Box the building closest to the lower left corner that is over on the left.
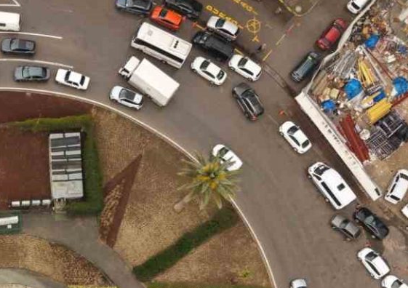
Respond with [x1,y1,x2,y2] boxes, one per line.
[47,131,85,203]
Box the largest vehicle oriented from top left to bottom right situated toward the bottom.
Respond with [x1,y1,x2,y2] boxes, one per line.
[304,164,360,211]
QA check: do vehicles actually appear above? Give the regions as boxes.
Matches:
[356,247,393,280]
[0,11,20,32]
[1,36,36,56]
[277,120,313,154]
[232,84,265,121]
[117,56,181,108]
[290,280,307,288]
[116,0,154,15]
[351,207,392,240]
[380,275,408,288]
[108,86,143,109]
[13,64,49,83]
[191,57,228,85]
[227,55,262,82]
[399,202,408,220]
[129,22,193,69]
[205,15,239,40]
[383,168,408,205]
[345,0,368,16]
[151,8,184,31]
[55,69,89,89]
[163,0,204,20]
[304,164,360,211]
[192,33,235,62]
[211,143,244,173]
[329,215,363,241]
